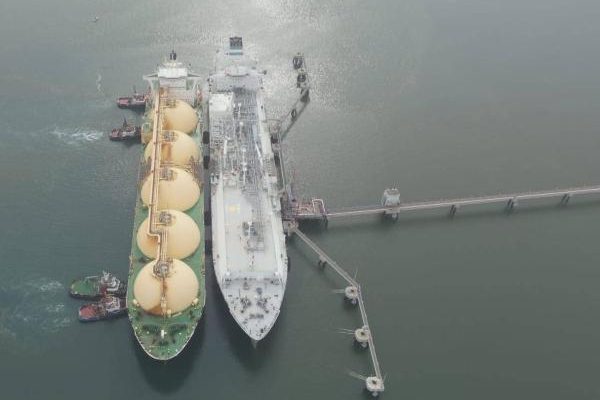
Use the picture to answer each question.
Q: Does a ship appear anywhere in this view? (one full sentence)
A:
Yes, the picture does show a ship.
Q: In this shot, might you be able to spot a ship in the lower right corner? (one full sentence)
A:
No, there is no ship in the lower right corner.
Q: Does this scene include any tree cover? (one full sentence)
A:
No, there is no tree cover in the image.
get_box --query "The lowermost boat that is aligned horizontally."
[79,294,128,320]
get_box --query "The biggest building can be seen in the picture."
[380,183,403,222]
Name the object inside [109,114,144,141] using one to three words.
boat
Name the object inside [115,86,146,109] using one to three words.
boat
